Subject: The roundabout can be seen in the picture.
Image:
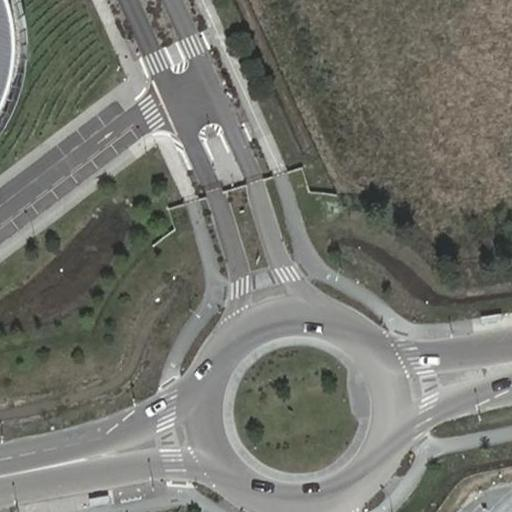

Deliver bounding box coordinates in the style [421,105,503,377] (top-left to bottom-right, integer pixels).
[150,279,448,512]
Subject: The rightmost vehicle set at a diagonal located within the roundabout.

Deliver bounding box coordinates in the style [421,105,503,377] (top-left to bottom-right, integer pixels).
[196,360,212,378]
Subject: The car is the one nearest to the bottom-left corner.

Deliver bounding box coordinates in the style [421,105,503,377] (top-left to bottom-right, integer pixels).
[146,400,166,415]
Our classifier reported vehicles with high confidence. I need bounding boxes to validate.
[420,356,440,366]
[302,484,320,493]
[146,400,166,415]
[304,324,323,333]
[196,360,212,378]
[492,378,512,390]
[252,482,274,492]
